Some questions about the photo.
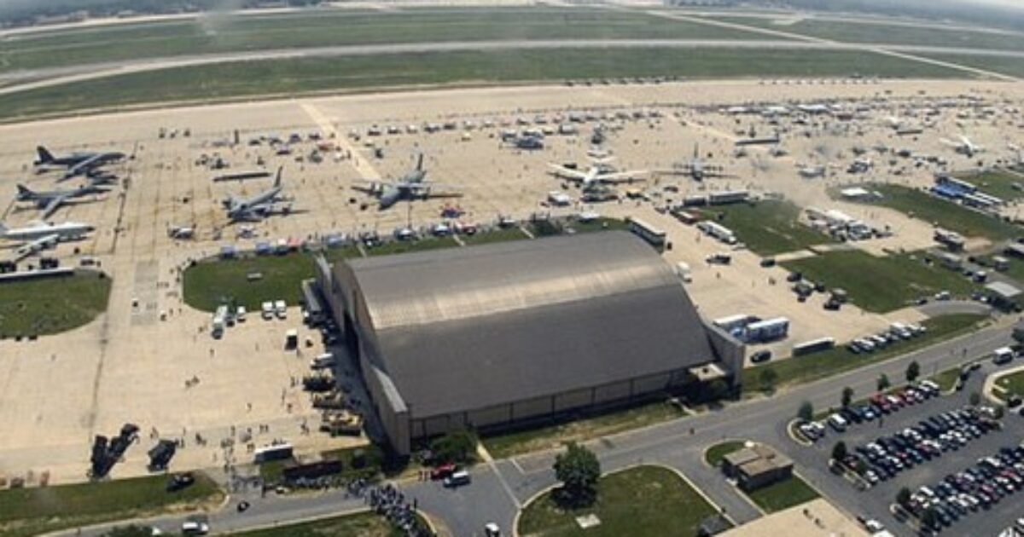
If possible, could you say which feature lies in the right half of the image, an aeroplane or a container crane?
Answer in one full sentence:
Looking in the right half of the image, you will find an aeroplane.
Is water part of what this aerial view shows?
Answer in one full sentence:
No, the picture contains no water.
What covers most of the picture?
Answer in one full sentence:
The largest share of the image is taken up by paved ground.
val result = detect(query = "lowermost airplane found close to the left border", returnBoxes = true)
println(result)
[0,213,105,248]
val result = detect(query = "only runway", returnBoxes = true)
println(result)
[0,39,1024,82]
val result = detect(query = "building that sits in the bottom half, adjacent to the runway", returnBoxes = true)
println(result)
[313,231,748,457]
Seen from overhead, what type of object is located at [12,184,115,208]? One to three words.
airplane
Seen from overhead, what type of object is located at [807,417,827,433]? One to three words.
vehicle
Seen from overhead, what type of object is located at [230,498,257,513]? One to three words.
car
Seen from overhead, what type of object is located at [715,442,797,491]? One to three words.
building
